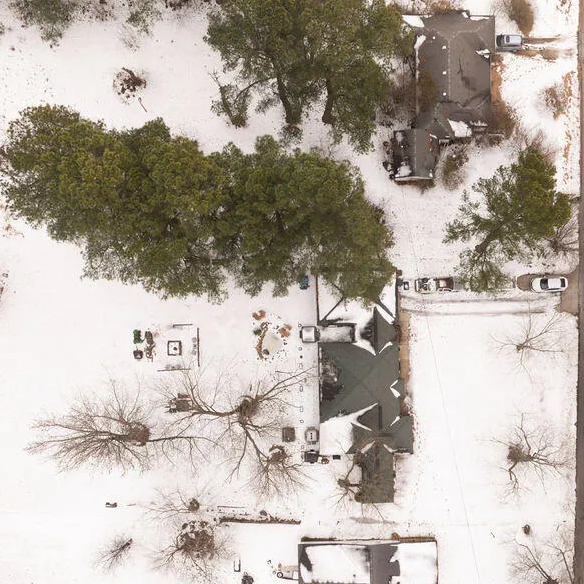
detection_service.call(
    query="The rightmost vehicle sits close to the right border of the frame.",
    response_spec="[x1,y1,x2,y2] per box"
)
[532,276,569,292]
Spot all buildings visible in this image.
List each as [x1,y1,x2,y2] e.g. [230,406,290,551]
[298,540,437,584]
[393,9,496,183]
[316,250,413,503]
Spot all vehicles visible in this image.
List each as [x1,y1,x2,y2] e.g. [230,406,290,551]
[496,31,525,49]
[416,276,468,293]
[532,276,569,292]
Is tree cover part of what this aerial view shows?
Yes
